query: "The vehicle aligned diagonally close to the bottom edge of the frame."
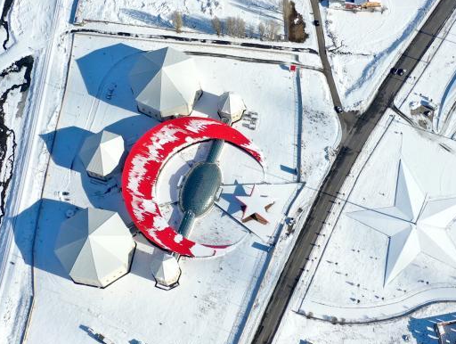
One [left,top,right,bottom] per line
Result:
[87,328,115,344]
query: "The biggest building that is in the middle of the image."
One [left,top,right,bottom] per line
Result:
[117,111,268,261]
